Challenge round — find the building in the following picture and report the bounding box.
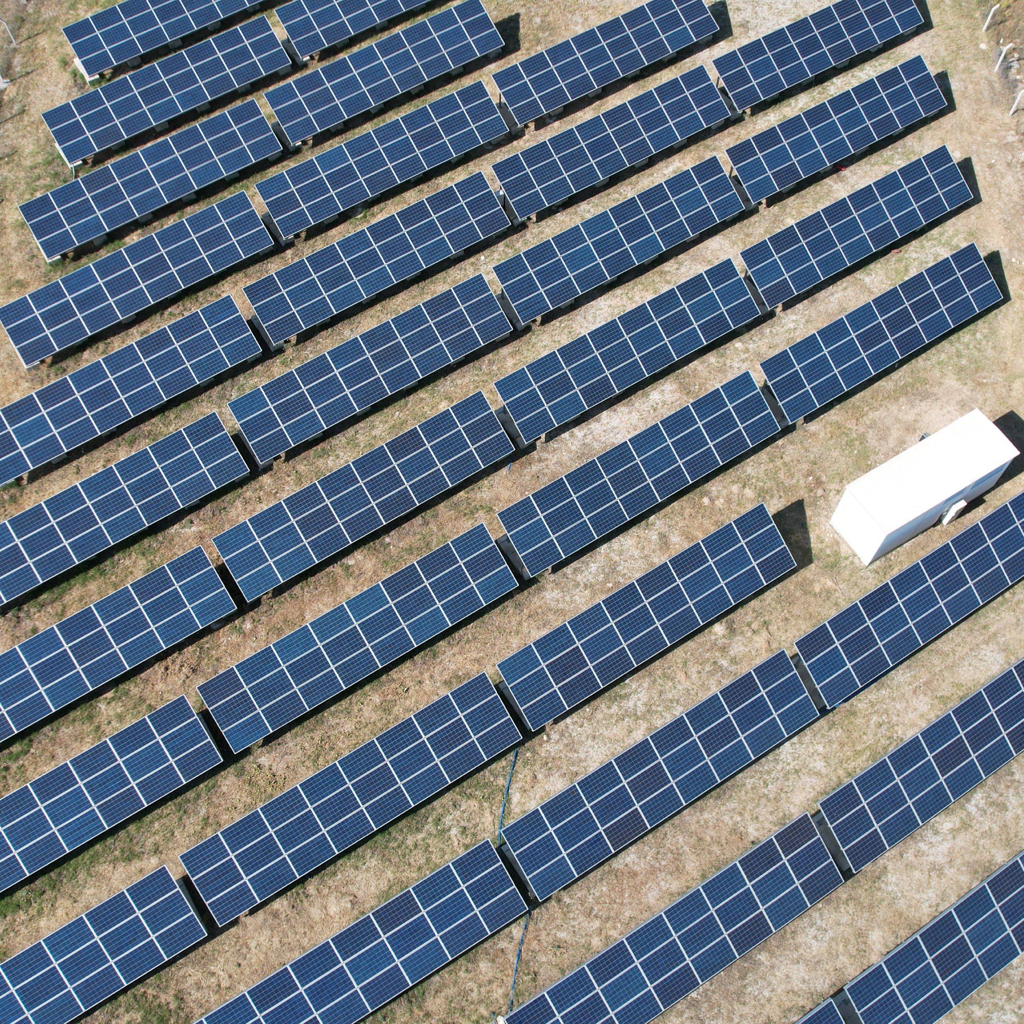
[830,409,1020,566]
